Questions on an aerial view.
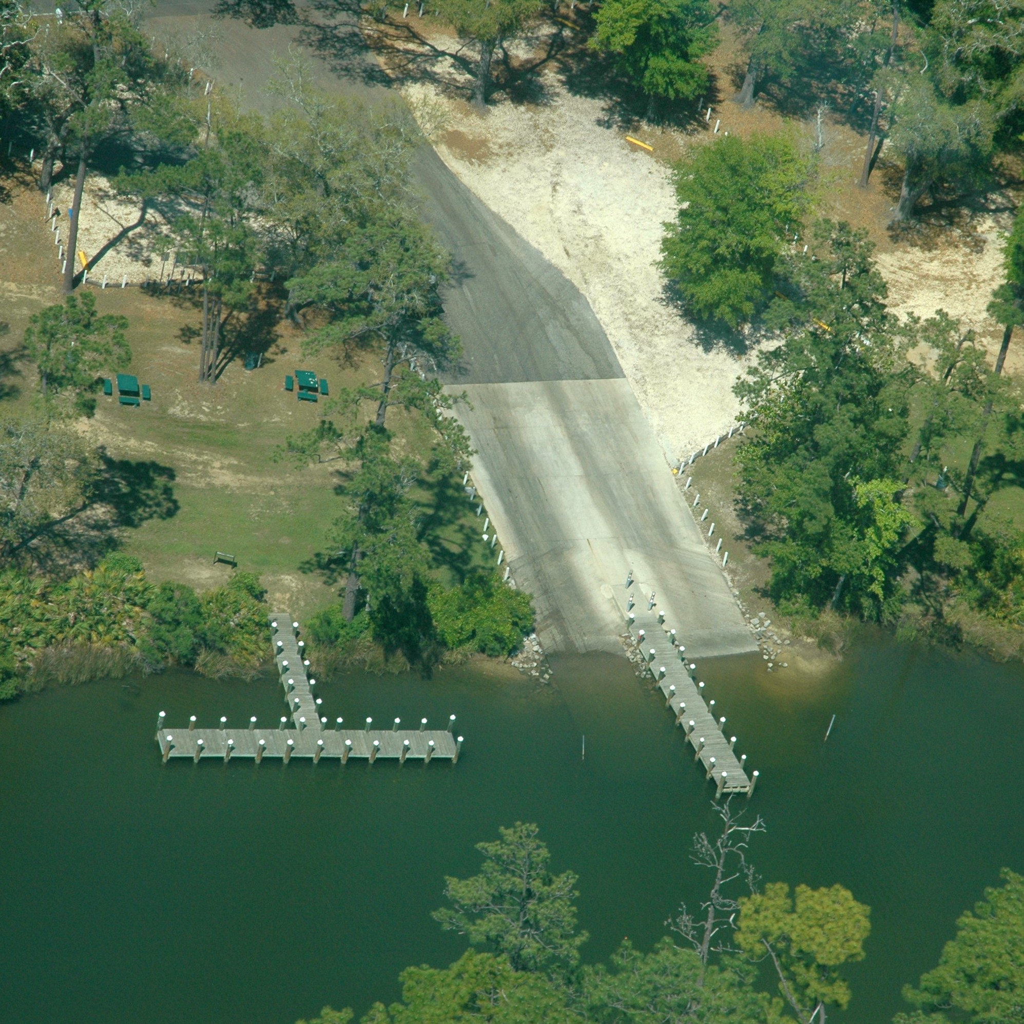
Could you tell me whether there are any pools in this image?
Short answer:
No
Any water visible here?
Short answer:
Yes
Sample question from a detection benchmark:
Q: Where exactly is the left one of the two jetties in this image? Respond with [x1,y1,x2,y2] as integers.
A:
[156,613,463,766]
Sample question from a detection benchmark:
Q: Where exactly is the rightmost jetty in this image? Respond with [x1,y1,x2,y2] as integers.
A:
[625,612,758,801]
